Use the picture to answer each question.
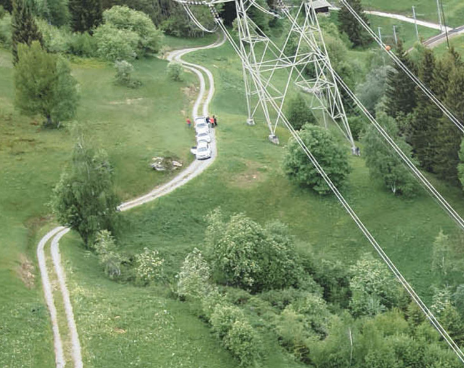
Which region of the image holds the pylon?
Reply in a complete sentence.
The pylon sits in the top section of the image.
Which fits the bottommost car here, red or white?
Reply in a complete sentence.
In this view, the bottommost car is white.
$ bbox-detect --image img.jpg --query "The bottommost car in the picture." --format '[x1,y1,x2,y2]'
[188,139,210,160]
